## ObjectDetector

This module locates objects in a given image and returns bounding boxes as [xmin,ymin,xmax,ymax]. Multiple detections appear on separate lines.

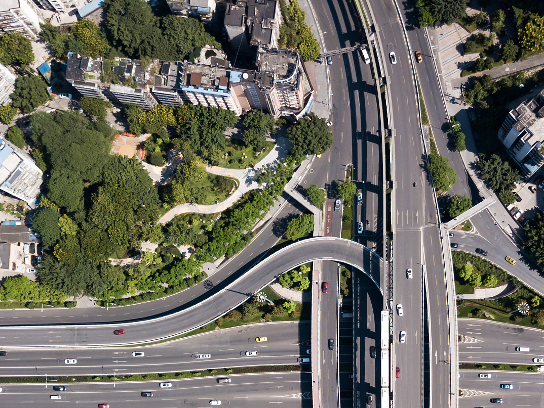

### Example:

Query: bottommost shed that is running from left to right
[0,225,42,244]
